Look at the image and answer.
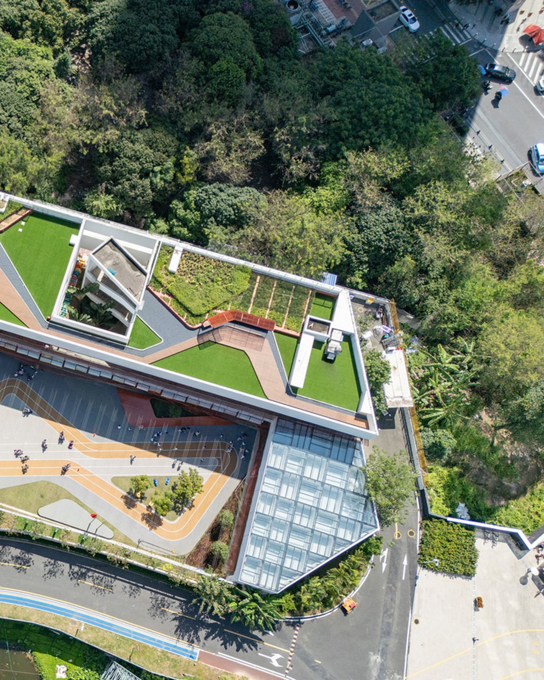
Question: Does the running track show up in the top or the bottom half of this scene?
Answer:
bottom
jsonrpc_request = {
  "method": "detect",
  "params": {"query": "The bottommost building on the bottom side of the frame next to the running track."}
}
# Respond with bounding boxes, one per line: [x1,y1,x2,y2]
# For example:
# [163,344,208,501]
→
[213,418,379,594]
